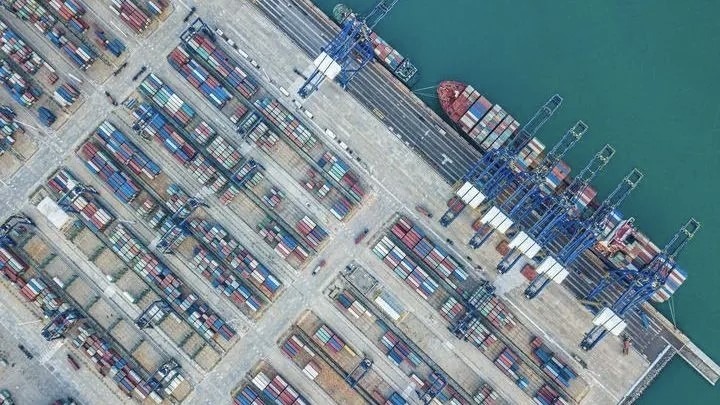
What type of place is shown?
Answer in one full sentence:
The area seen from above is a port.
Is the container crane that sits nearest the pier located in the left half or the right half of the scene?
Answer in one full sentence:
The container crane that sits nearest the pier appears in the right half of the scene.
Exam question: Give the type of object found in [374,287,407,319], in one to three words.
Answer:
shed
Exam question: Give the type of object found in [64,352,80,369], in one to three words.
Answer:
vehicle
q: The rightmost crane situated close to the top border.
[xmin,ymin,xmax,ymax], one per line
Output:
[297,0,398,98]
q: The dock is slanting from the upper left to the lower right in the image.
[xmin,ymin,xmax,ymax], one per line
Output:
[656,326,720,385]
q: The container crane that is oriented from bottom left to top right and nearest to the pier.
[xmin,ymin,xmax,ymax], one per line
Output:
[577,218,700,354]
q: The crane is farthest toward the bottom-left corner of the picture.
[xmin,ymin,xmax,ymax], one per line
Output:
[43,311,89,348]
